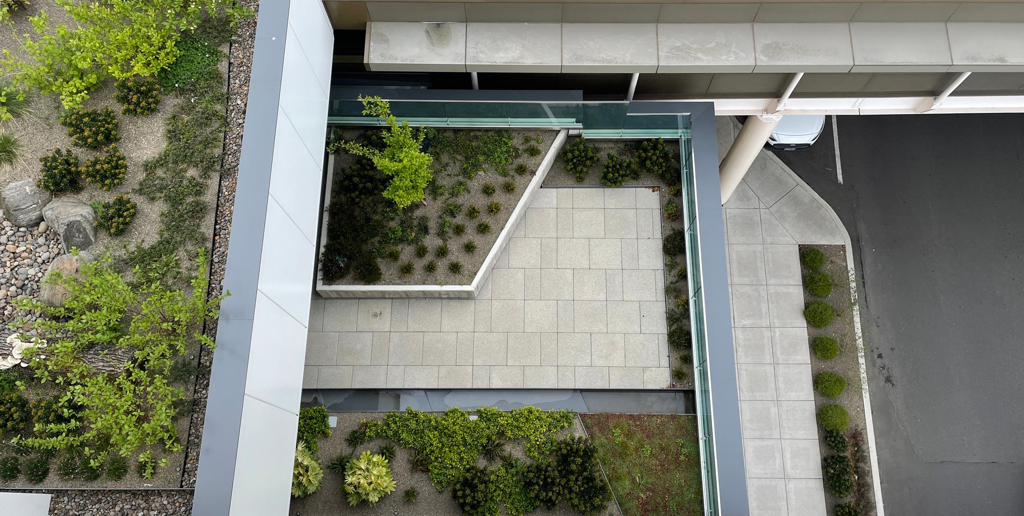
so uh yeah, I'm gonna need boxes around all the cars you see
[764,117,829,155]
